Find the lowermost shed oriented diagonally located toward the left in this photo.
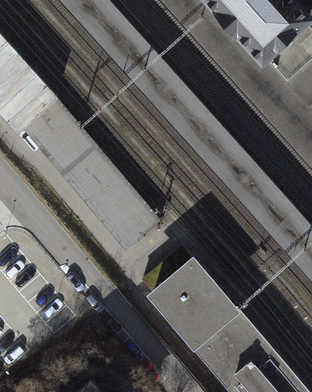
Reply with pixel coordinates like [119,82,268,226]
[26,98,162,251]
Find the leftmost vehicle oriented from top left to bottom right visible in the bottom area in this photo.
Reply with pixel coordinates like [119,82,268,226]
[66,270,85,292]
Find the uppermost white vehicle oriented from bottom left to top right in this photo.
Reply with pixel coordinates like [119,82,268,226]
[6,260,26,278]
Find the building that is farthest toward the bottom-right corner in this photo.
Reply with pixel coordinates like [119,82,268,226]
[147,258,308,392]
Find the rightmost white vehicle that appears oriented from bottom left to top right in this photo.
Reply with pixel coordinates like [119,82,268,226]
[44,298,64,317]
